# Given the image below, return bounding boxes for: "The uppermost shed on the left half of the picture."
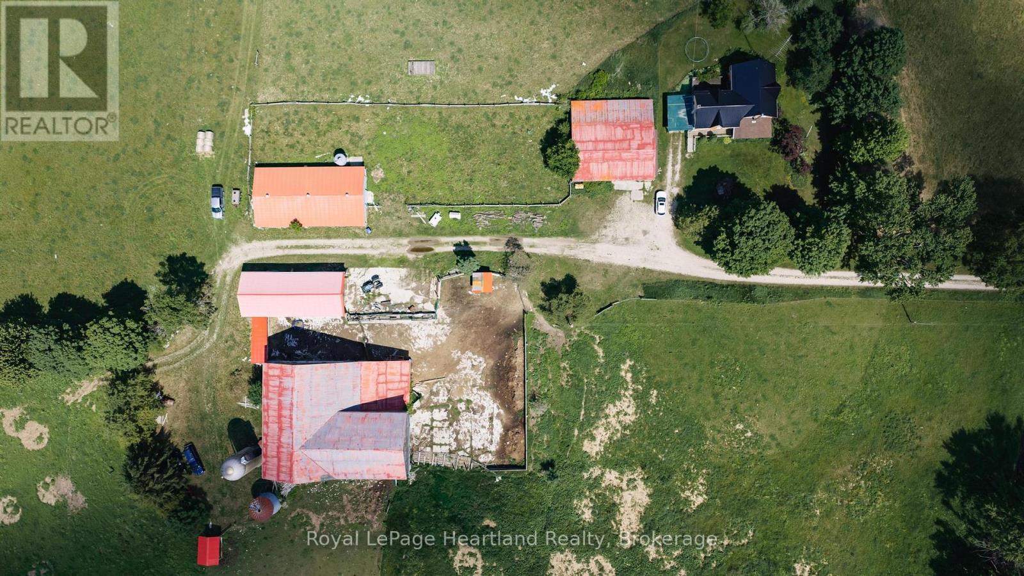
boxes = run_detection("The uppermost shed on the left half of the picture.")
[248,166,367,227]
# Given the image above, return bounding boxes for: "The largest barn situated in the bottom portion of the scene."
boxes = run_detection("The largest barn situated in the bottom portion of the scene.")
[262,360,411,486]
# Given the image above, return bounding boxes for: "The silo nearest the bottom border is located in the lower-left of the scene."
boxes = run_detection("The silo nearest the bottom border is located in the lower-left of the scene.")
[247,489,281,521]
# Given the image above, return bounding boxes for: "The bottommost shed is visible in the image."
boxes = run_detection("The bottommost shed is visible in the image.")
[197,531,224,566]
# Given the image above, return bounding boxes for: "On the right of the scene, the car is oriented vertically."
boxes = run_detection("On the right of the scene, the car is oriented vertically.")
[654,190,667,216]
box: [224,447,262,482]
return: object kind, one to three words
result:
silo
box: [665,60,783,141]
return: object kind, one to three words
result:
house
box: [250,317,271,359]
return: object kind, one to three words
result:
shed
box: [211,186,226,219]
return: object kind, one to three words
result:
vehicle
